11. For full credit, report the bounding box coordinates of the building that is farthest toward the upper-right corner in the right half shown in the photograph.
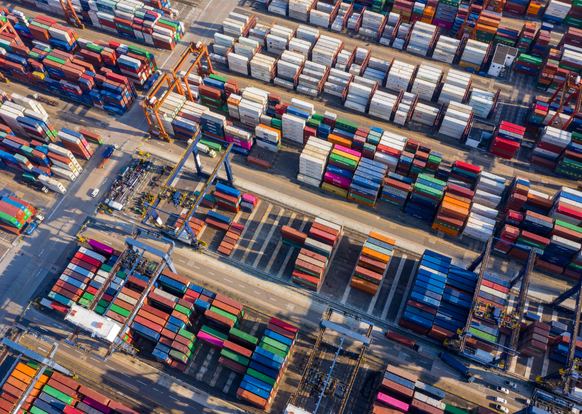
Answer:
[488,44,518,76]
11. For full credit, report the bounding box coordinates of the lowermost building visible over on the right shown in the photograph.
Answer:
[465,119,495,147]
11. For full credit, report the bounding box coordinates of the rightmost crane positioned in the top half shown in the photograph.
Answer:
[542,76,582,130]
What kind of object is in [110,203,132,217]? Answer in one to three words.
vehicle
